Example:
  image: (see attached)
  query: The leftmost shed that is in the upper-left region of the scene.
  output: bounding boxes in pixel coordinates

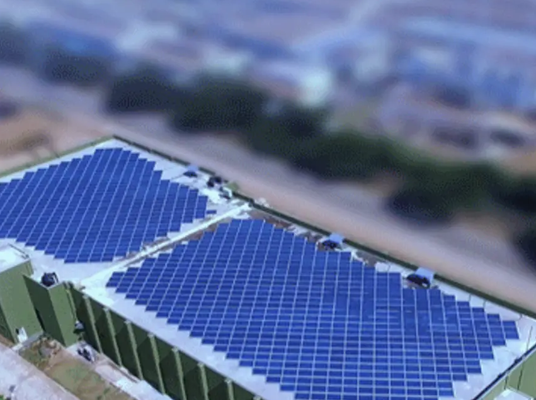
[35,19,131,60]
